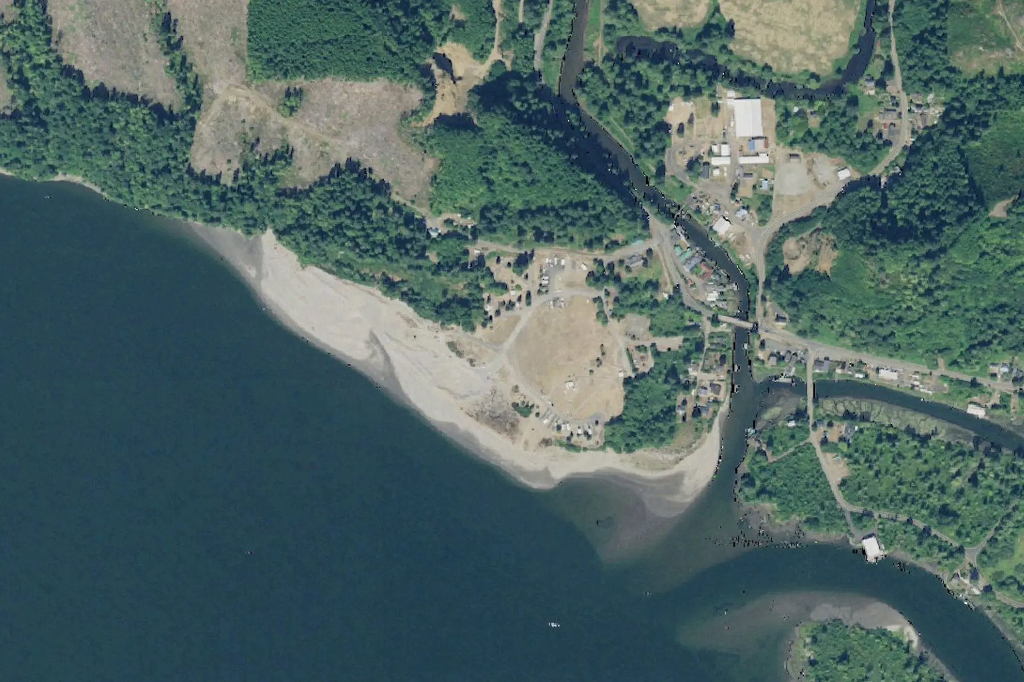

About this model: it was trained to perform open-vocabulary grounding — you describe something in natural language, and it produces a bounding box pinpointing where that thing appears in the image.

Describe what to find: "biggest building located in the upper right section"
[734,98,763,136]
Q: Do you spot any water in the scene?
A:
Yes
